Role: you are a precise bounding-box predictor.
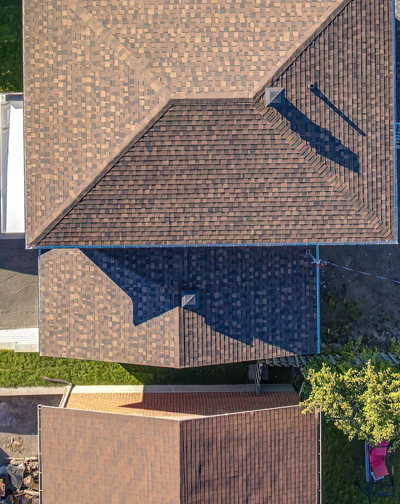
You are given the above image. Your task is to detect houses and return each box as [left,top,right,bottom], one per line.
[36,376,322,504]
[0,0,400,365]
